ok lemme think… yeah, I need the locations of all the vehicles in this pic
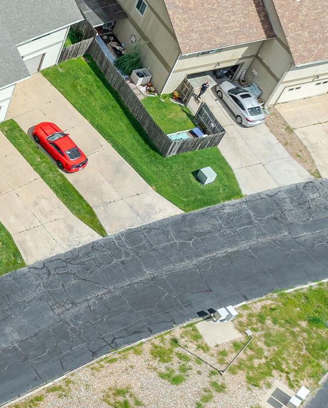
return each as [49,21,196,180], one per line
[33,120,90,172]
[218,79,272,127]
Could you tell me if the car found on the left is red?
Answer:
Yes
